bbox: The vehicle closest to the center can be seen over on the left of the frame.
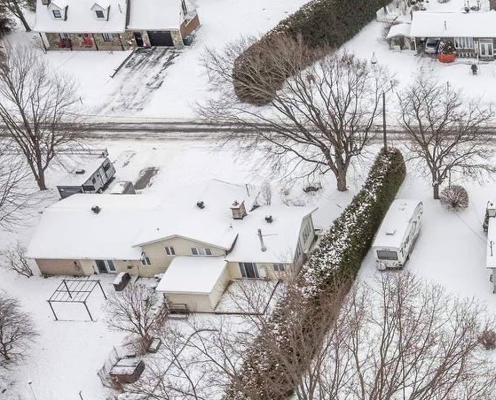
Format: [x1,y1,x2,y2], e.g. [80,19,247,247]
[115,180,154,195]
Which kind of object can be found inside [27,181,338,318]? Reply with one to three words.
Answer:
house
